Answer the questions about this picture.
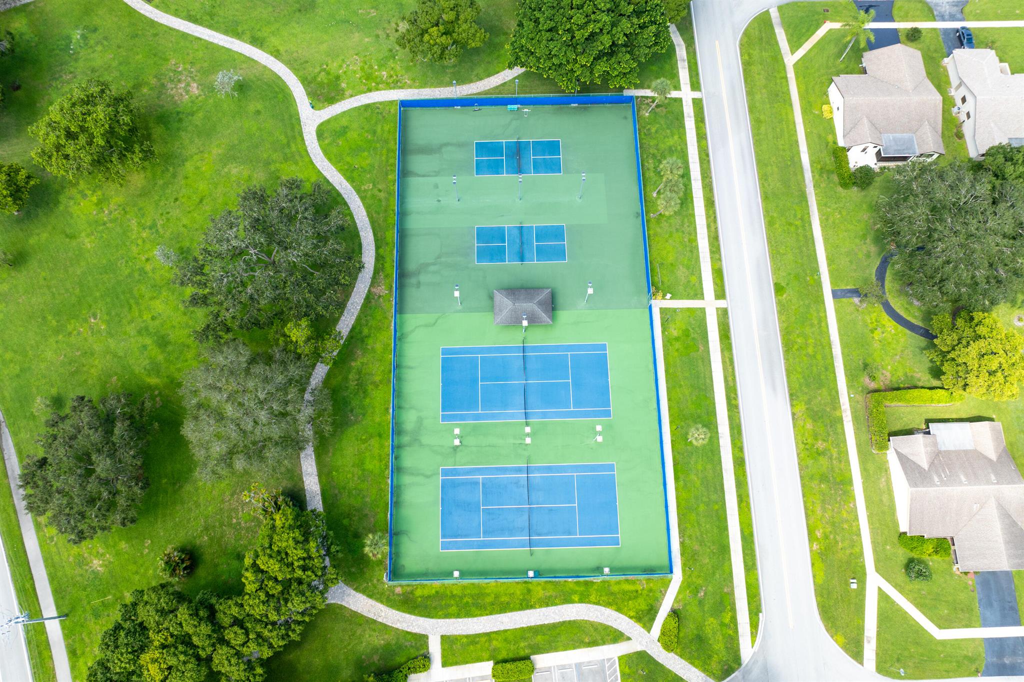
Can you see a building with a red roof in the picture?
No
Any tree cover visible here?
Yes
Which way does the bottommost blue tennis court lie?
horizontally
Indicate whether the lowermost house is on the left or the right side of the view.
right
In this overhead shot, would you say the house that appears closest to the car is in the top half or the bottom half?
top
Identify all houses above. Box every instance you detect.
[888,419,1024,572]
[946,44,1024,166]
[829,44,946,170]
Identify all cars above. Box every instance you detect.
[956,26,974,48]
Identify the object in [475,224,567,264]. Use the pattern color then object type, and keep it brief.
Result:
blue sports court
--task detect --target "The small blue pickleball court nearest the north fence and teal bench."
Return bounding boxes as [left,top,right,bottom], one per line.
[474,139,562,176]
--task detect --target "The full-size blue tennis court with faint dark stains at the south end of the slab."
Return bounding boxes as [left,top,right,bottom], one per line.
[440,463,621,552]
